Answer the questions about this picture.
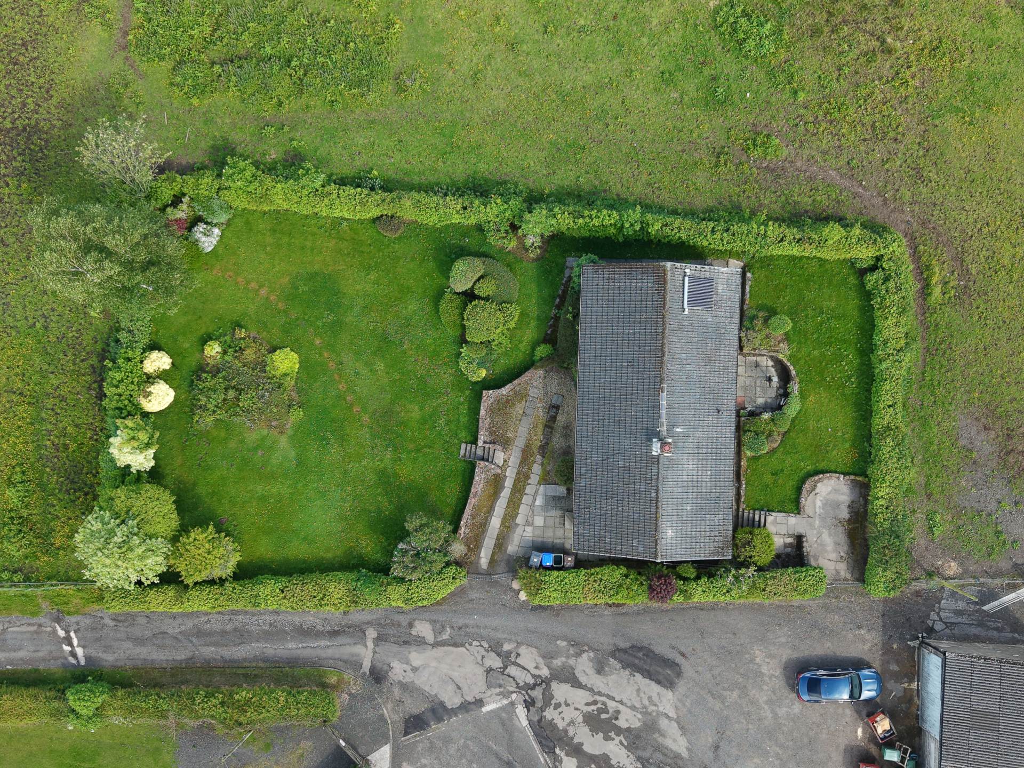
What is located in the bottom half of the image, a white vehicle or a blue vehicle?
blue vehicle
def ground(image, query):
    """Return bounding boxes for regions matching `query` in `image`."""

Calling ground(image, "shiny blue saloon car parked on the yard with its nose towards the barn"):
[793,664,882,708]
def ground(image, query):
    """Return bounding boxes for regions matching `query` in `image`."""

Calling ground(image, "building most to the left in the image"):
[569,259,744,565]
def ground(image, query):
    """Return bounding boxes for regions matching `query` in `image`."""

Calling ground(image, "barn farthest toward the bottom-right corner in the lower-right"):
[916,636,1024,768]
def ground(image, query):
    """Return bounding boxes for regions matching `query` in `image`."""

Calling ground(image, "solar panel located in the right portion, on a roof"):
[684,266,712,315]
